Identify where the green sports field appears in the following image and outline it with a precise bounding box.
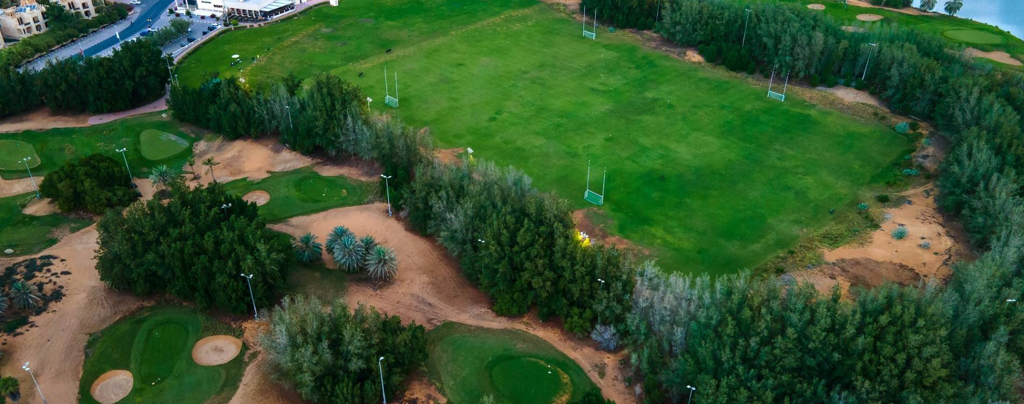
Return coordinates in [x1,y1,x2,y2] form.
[176,0,916,302]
